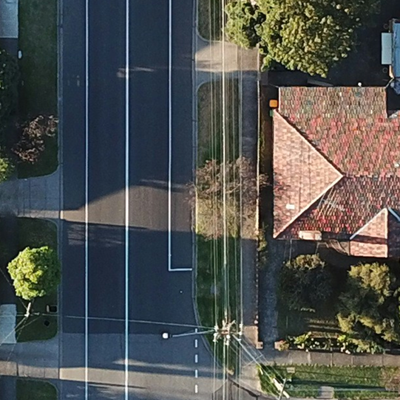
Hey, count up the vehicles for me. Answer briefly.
0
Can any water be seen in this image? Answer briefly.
No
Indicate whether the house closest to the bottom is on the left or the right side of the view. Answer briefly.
right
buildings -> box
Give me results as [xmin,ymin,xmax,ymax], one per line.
[272,81,400,258]
[381,19,400,77]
